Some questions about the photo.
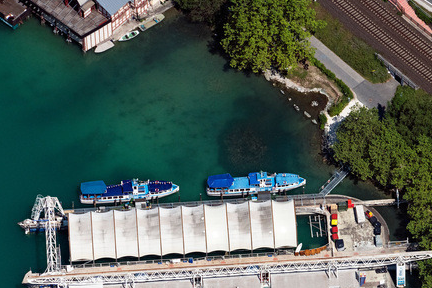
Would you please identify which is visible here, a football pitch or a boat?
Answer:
boat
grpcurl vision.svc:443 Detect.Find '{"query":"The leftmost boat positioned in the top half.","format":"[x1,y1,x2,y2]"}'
[95,41,114,53]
